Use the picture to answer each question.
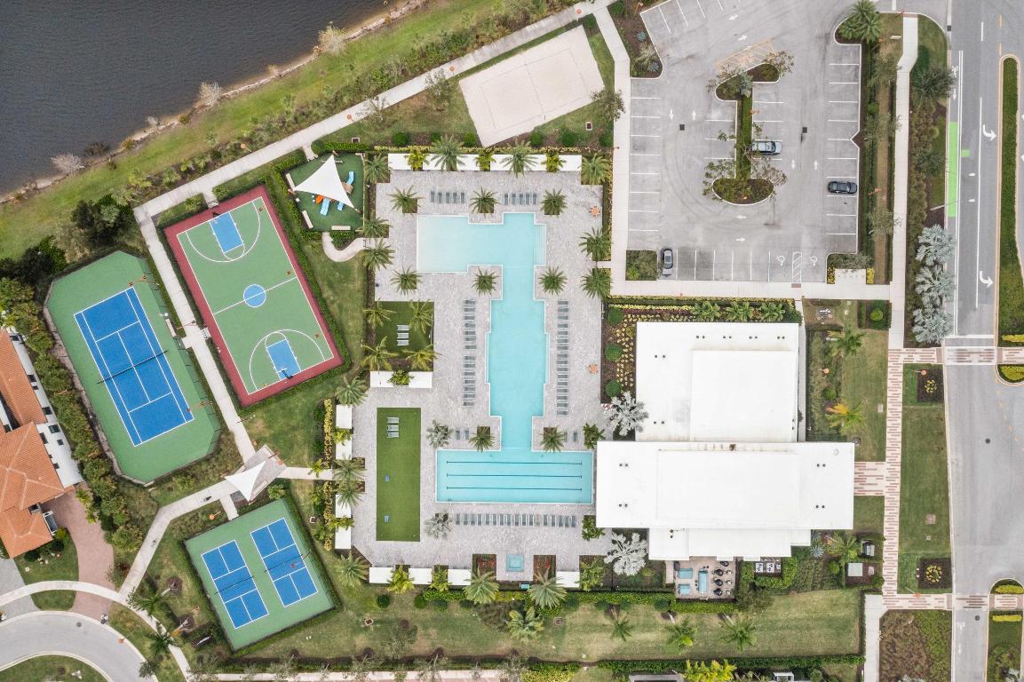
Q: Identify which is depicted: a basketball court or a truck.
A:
basketball court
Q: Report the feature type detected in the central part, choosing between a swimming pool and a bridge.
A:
swimming pool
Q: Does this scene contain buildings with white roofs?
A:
Yes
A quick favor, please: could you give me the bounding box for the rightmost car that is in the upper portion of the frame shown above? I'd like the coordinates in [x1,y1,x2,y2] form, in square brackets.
[825,181,856,194]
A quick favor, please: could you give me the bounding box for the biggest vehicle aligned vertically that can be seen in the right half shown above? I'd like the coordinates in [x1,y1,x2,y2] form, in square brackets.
[660,248,674,277]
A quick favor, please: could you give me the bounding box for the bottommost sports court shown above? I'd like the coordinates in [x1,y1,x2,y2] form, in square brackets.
[185,500,334,652]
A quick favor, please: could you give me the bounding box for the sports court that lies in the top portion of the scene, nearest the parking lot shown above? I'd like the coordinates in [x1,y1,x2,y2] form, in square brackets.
[460,25,603,147]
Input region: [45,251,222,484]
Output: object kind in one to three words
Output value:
tennis court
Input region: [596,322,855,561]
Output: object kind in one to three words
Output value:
building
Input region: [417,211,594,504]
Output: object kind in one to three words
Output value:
swimming pool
